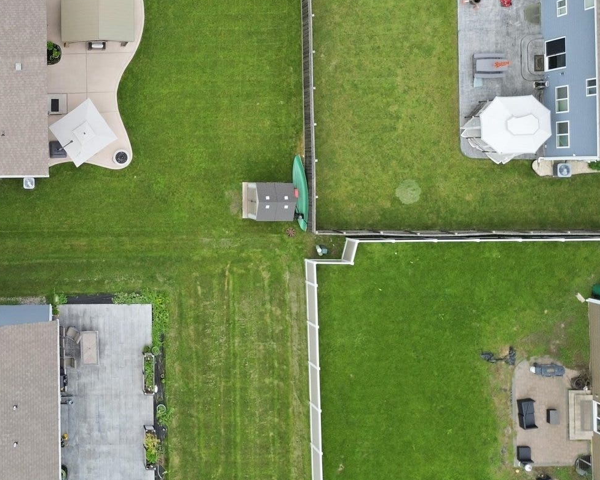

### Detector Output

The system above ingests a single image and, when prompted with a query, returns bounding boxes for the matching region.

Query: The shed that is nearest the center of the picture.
[242,183,297,220]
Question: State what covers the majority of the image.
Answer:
grass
